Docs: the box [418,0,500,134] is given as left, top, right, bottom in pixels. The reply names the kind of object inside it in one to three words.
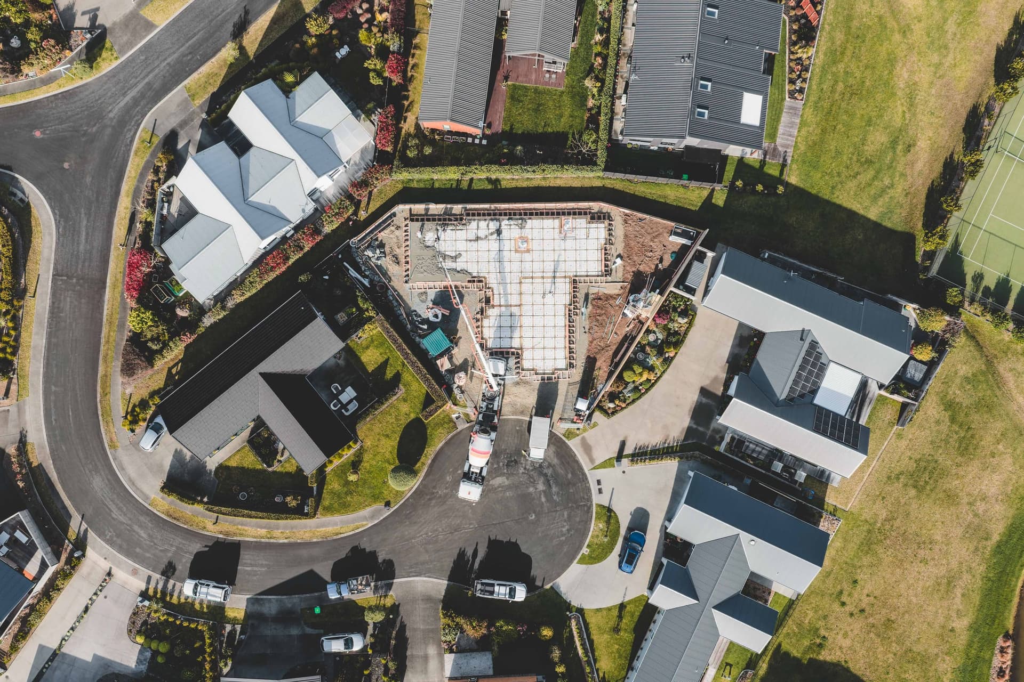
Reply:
house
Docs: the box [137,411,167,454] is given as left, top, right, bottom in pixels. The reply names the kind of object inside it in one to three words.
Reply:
car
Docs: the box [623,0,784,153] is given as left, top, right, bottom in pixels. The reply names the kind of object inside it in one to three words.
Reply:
house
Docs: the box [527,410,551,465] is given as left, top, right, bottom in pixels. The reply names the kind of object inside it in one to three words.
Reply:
truck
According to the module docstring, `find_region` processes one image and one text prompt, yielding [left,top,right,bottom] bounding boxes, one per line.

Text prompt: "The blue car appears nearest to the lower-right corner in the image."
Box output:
[620,529,646,576]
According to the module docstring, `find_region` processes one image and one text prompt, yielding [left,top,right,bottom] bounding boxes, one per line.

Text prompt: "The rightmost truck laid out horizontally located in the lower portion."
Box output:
[473,578,526,603]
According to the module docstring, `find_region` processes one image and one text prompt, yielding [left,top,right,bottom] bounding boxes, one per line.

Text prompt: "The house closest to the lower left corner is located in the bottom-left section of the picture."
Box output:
[0,509,63,639]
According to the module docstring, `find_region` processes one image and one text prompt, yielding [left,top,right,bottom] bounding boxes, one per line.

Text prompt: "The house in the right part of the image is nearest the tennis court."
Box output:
[700,246,910,479]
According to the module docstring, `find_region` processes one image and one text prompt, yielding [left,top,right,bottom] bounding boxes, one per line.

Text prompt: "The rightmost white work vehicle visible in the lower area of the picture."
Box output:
[572,399,588,425]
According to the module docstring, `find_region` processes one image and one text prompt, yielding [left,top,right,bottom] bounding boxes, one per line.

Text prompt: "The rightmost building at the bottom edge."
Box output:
[621,468,829,682]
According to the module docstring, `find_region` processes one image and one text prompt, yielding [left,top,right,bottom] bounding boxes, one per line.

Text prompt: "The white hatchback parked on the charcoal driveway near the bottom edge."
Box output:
[320,631,365,654]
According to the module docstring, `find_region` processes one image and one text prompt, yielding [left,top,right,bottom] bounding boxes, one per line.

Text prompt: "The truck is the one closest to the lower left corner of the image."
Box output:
[184,578,233,604]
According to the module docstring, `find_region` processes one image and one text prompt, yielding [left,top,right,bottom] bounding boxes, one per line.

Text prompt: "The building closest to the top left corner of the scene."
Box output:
[161,71,374,304]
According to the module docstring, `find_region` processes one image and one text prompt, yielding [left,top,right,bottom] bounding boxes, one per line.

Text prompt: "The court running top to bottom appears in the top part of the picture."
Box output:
[936,87,1024,316]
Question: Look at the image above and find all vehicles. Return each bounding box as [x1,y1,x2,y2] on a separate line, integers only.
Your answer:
[137,411,167,454]
[184,578,233,604]
[327,574,375,600]
[572,399,588,425]
[454,422,496,509]
[620,529,646,576]
[527,410,551,465]
[473,578,526,603]
[320,631,365,654]
[438,254,520,433]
